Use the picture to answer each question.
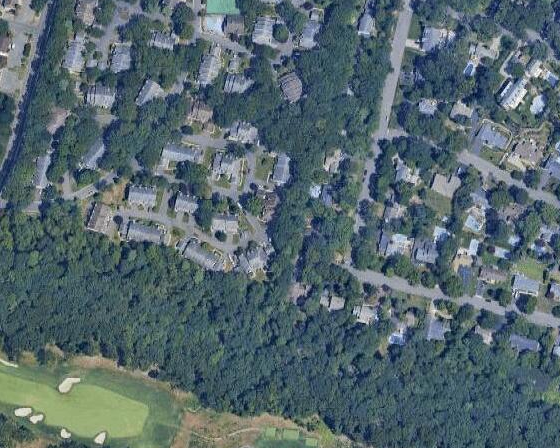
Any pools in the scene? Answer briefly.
Yes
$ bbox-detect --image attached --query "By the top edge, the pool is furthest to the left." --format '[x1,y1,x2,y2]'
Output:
[205,15,226,33]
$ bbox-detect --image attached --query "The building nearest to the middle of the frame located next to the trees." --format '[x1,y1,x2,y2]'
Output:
[257,186,280,221]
